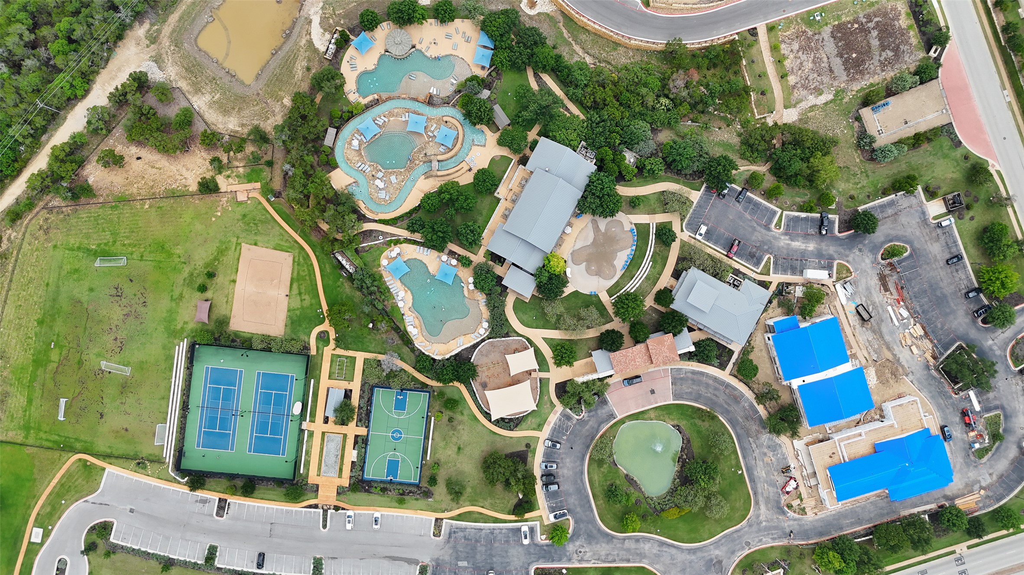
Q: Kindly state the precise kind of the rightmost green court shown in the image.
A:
basketball court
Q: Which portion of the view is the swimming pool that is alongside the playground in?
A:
center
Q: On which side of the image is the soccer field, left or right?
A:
left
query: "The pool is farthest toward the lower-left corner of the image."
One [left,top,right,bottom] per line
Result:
[398,257,484,346]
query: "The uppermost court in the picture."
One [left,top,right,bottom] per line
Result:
[229,243,294,337]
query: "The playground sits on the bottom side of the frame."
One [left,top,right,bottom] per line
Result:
[470,336,541,419]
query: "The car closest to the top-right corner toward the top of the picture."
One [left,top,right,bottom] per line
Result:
[936,216,954,228]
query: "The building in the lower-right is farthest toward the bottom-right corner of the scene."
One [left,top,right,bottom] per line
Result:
[804,396,954,509]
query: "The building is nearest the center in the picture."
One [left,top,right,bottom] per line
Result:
[502,265,535,298]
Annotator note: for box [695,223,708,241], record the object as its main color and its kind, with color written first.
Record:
white vehicle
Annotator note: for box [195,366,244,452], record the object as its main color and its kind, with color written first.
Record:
blue tennis court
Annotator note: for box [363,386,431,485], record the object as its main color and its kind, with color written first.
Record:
green basketball court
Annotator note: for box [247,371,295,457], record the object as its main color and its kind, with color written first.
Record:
blue tennis court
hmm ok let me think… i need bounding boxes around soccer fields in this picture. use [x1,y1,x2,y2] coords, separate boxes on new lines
[24,229,189,461]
